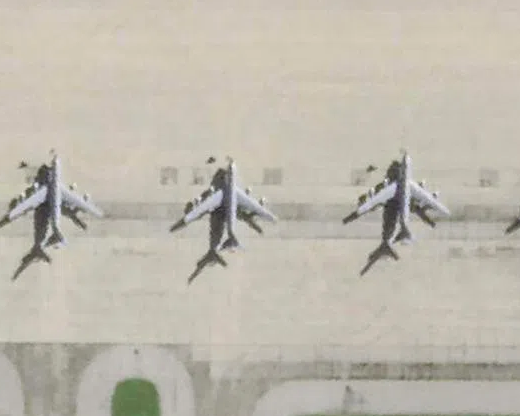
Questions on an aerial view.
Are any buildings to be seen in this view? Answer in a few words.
No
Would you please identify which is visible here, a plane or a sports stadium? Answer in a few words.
plane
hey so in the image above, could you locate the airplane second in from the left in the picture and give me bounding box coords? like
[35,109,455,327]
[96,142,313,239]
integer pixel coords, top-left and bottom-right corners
[187,160,277,253]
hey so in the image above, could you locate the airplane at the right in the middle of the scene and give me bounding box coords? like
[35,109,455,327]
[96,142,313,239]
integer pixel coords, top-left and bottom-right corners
[361,154,451,246]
